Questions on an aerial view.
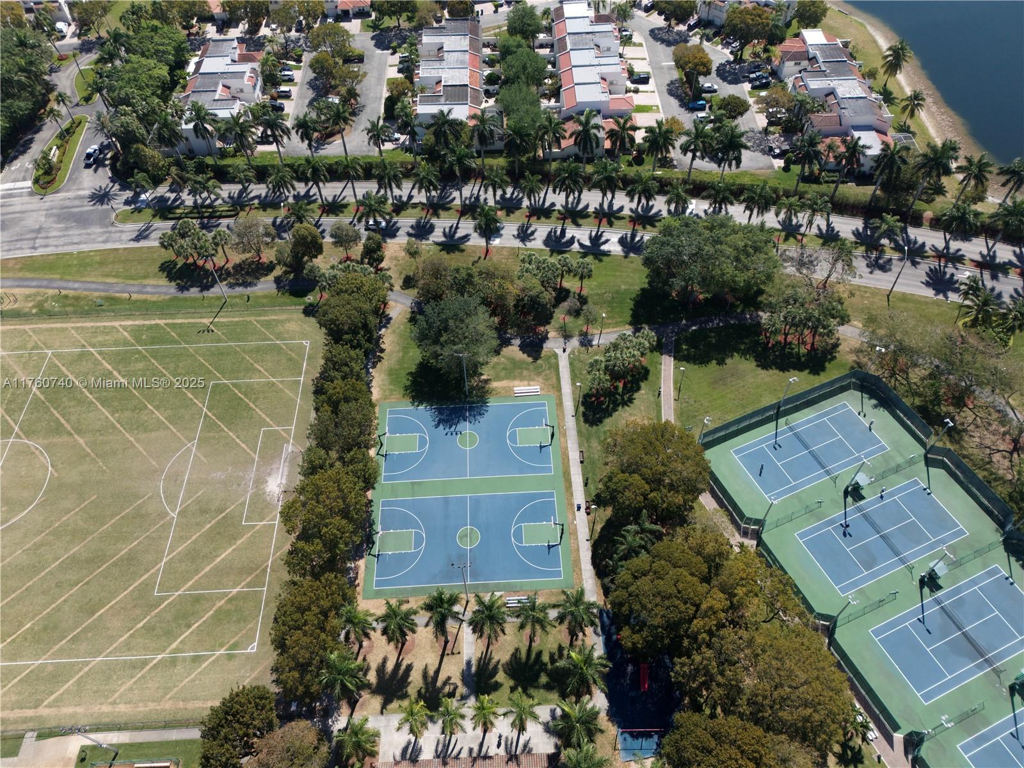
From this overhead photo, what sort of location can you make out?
sports ground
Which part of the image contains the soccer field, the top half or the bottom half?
bottom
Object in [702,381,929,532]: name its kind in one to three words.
tennis court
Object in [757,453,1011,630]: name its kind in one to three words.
tennis court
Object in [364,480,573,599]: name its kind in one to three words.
basketball court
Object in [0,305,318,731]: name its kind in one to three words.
soccer field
